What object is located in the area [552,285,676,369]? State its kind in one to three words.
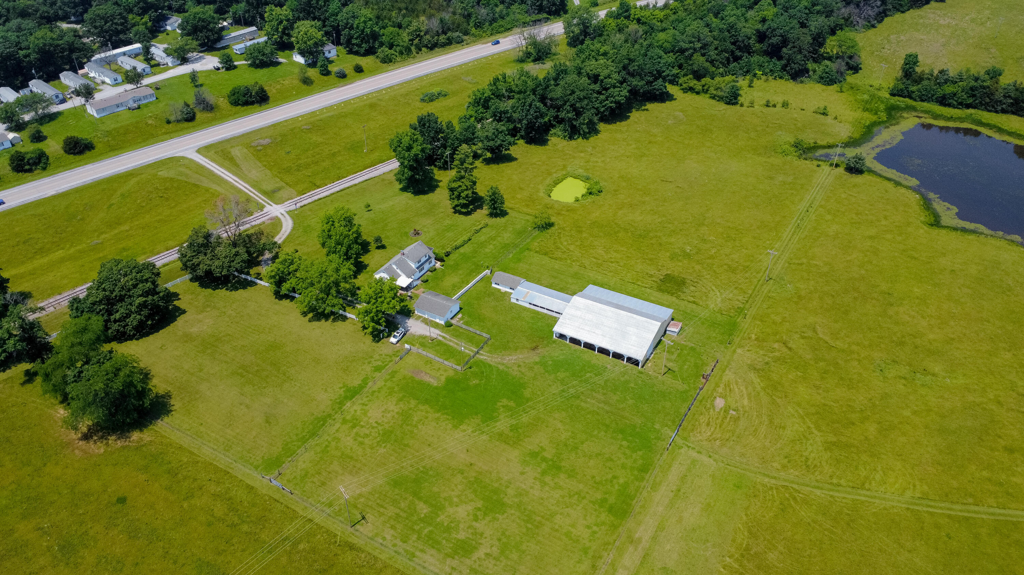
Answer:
barn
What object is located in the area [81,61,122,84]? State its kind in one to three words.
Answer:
house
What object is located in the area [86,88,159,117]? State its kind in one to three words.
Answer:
house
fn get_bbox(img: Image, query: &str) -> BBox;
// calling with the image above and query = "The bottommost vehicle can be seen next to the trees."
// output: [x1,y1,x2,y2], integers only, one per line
[388,327,406,343]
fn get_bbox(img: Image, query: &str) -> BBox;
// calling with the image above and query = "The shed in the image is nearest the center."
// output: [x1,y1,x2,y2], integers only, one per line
[490,269,525,293]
